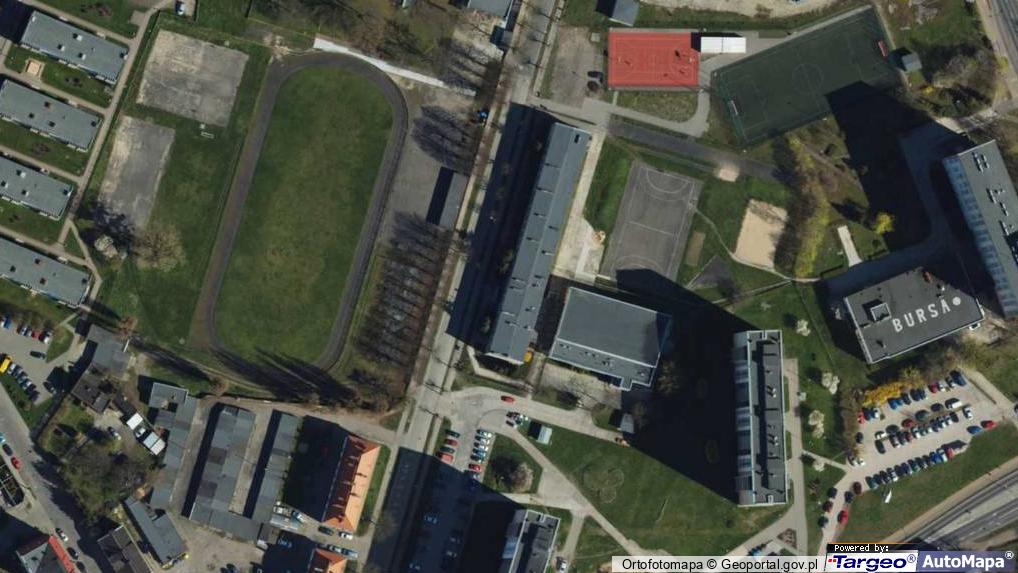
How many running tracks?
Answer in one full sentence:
In total, 2 running tracks can be seen.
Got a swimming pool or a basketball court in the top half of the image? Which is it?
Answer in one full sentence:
What appears in the top half of the image is a basketball court.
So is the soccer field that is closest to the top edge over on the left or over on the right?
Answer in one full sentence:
The soccer field that is closest to the top edge sits on the right side.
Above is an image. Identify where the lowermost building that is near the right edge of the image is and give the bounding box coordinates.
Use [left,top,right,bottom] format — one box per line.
[842,267,984,362]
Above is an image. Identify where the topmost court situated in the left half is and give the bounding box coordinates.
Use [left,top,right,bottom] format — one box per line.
[138,32,249,124]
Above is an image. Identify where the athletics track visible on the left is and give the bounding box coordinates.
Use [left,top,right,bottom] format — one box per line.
[190,51,407,383]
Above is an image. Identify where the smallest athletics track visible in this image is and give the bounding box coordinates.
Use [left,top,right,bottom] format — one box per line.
[606,120,789,184]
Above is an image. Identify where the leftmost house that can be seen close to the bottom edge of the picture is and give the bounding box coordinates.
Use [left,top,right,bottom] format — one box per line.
[15,533,77,573]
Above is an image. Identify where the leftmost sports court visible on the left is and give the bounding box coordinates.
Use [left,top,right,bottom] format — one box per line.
[97,116,173,229]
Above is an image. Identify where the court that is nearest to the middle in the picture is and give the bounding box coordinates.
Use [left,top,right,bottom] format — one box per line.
[600,161,703,286]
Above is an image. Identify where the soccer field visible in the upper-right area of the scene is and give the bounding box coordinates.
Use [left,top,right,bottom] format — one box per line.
[709,4,912,143]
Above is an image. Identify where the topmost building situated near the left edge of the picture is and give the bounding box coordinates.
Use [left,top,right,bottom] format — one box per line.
[20,11,128,83]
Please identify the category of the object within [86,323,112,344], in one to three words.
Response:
shed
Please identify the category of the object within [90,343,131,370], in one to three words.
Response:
building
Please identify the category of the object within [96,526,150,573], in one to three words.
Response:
house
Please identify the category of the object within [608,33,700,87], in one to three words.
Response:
basketball court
